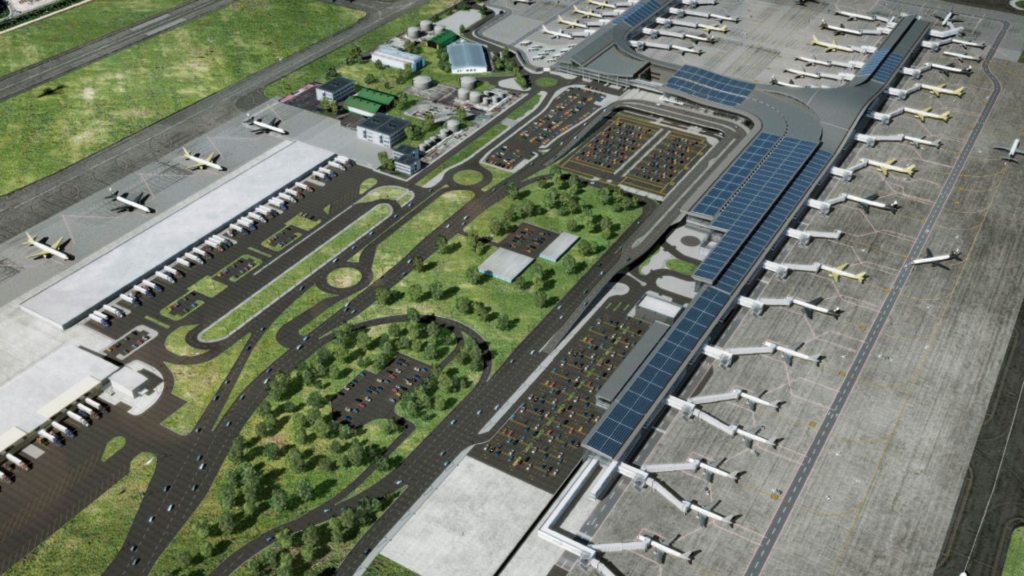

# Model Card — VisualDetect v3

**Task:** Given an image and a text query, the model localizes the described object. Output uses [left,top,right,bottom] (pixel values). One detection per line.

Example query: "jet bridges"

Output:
[586,21,612,30]
[617,459,701,513]
[830,159,871,186]
[866,106,907,128]
[681,0,719,11]
[703,345,777,372]
[668,390,743,436]
[885,83,923,105]
[787,229,843,250]
[807,193,849,220]
[601,10,627,20]
[764,260,822,282]
[873,16,895,29]
[738,296,796,320]
[850,46,874,54]
[927,22,965,43]
[855,134,906,151]
[922,37,954,56]
[901,62,933,83]
[572,32,598,41]
[629,41,671,54]
[655,19,698,32]
[642,29,685,42]
[615,0,640,10]
[669,8,711,21]
[581,536,651,576]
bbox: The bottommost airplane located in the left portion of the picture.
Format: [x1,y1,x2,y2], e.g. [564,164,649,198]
[20,229,69,261]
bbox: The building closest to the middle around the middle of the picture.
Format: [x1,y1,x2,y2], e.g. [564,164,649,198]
[479,246,535,283]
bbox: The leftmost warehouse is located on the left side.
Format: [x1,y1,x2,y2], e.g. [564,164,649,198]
[0,345,121,468]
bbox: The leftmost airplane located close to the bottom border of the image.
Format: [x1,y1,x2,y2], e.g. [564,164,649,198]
[637,531,694,567]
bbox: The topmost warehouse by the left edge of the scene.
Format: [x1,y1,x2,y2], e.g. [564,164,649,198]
[20,140,337,332]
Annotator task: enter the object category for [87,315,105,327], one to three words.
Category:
vehicle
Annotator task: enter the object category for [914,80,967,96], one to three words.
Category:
airplane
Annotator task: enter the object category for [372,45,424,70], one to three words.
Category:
building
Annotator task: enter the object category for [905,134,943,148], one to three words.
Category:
airplane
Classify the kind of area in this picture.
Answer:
airport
